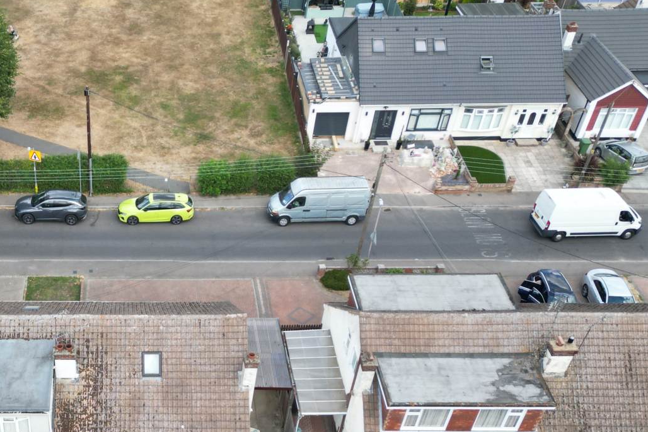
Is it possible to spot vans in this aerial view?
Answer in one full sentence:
Yes, there is a van in the image.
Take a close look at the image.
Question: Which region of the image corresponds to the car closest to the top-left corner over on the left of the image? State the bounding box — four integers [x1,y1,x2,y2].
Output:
[14,187,89,224]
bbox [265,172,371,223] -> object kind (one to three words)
van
